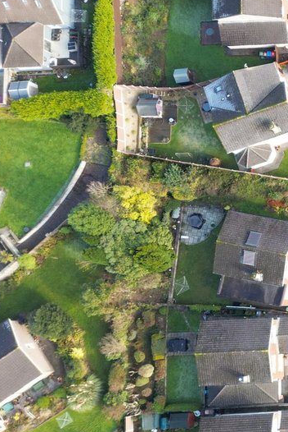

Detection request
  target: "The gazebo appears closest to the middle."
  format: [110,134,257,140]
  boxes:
[188,213,205,229]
